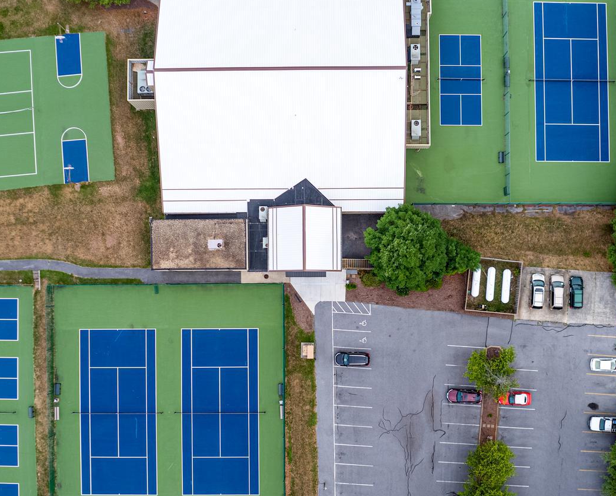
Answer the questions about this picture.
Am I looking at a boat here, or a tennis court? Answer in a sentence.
It is a tennis court that can be seen here.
